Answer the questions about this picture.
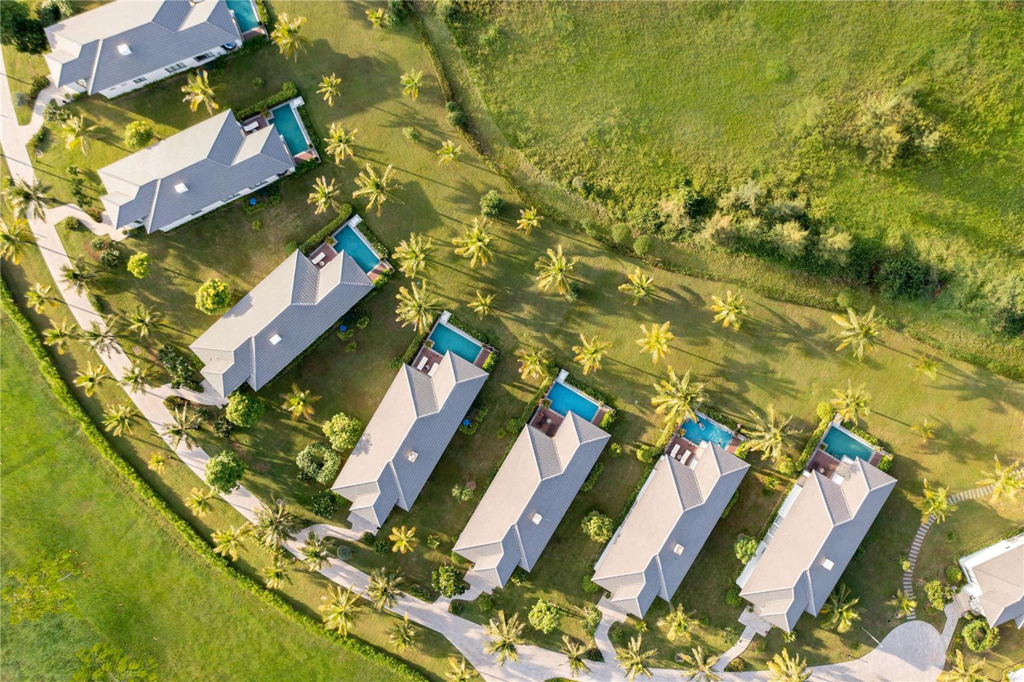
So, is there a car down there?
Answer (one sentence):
No, I find no car anywhere in the image.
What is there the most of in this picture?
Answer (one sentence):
Most of the picture is covered by grass.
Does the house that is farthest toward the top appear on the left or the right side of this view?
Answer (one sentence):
You can find the house that is farthest toward the top on the left side of the picture.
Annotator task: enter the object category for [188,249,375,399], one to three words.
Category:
house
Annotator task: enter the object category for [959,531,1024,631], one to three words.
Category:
house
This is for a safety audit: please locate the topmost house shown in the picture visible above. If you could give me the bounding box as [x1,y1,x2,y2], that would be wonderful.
[43,0,243,99]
